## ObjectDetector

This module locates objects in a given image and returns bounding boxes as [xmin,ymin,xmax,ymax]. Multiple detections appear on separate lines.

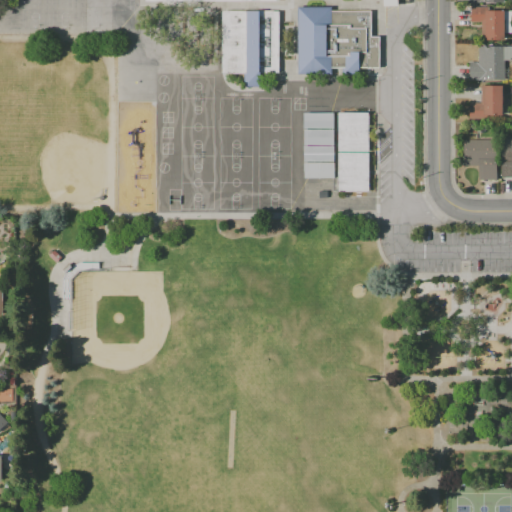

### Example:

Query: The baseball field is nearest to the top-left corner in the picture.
[0,42,110,205]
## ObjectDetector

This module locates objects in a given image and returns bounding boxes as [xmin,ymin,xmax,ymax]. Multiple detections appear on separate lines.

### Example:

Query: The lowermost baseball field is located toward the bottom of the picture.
[72,270,170,369]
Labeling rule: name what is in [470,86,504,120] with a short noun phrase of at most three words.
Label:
house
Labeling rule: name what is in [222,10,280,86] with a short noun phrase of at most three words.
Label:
building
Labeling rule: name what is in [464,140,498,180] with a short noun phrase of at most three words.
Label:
house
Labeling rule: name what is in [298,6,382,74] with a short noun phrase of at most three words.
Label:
building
